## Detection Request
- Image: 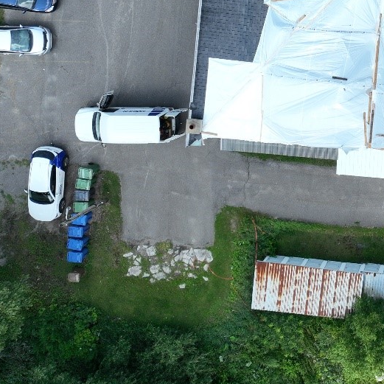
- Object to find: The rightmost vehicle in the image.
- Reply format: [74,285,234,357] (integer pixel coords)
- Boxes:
[75,94,187,147]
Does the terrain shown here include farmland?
No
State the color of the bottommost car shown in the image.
white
